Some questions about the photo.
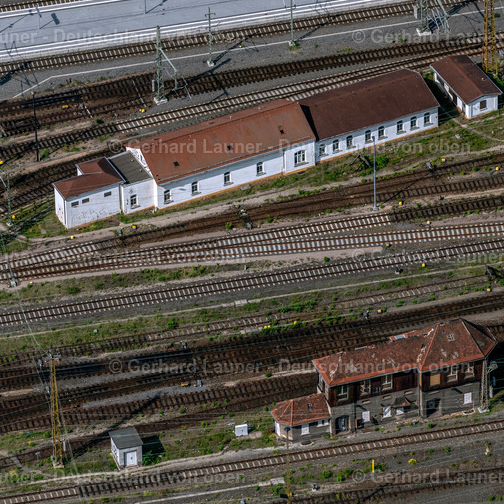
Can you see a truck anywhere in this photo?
No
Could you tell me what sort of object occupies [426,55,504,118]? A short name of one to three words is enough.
shed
